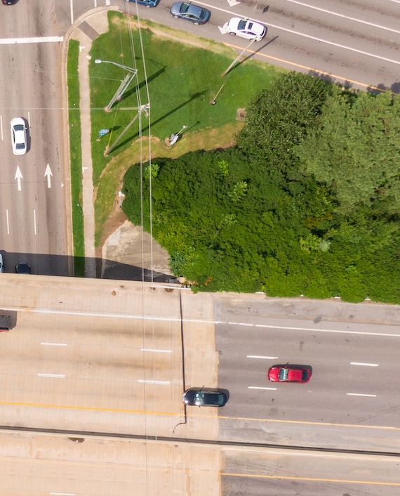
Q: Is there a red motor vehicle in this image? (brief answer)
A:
Yes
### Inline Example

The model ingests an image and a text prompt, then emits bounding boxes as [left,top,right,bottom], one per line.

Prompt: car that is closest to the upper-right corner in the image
[226,16,265,40]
